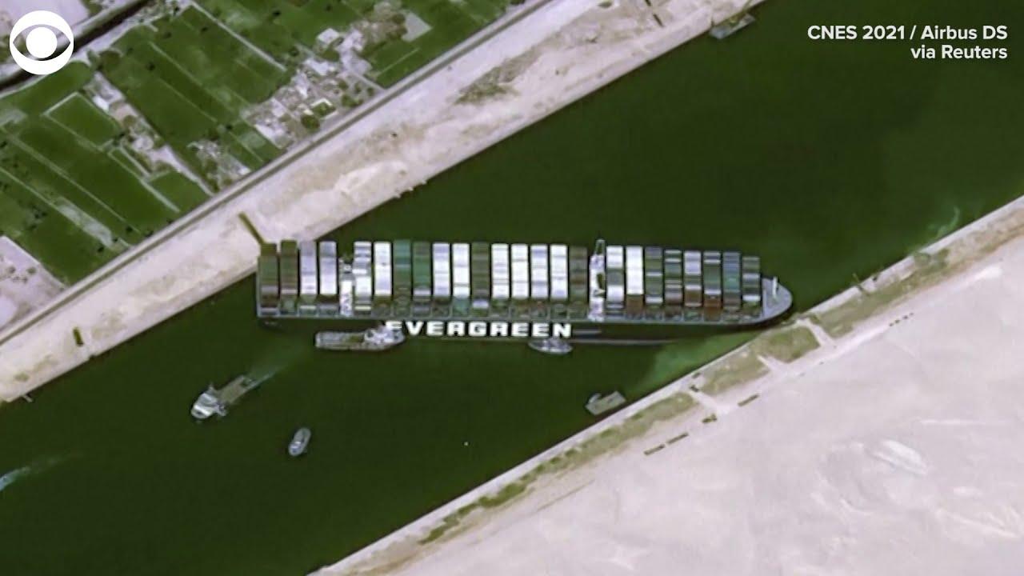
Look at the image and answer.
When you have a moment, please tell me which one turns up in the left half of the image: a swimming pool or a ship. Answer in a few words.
ship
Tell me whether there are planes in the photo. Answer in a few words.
No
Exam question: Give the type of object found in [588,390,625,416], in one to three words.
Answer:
ship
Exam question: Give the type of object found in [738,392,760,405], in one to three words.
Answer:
vehicle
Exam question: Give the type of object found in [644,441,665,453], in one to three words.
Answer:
vehicle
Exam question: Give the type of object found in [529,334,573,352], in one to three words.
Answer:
boat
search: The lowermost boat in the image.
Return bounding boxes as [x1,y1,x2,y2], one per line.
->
[291,429,310,456]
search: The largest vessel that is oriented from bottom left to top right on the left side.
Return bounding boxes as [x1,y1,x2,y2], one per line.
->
[190,372,255,420]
